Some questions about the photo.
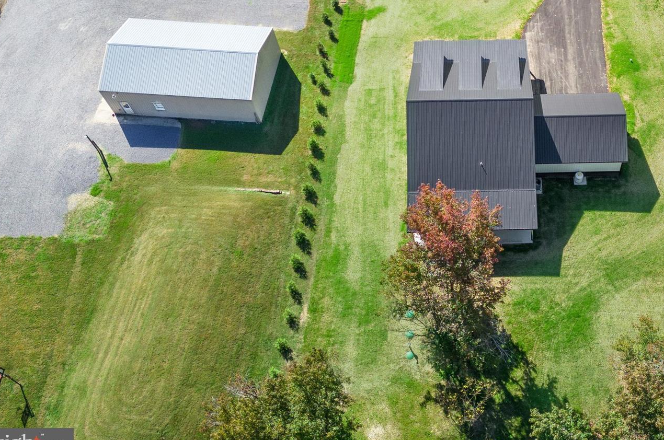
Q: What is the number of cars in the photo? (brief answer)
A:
0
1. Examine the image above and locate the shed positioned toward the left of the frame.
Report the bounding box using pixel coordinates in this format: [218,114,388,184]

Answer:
[96,19,281,126]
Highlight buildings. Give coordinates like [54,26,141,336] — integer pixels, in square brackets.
[96,19,281,126]
[406,40,628,244]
